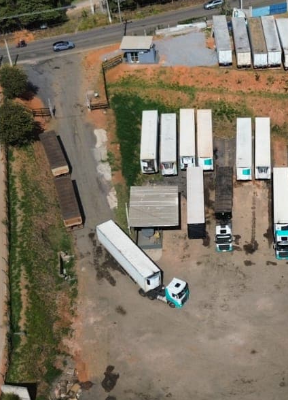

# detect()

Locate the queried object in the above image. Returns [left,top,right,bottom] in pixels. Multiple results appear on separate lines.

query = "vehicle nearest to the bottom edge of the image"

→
[139,274,187,304]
